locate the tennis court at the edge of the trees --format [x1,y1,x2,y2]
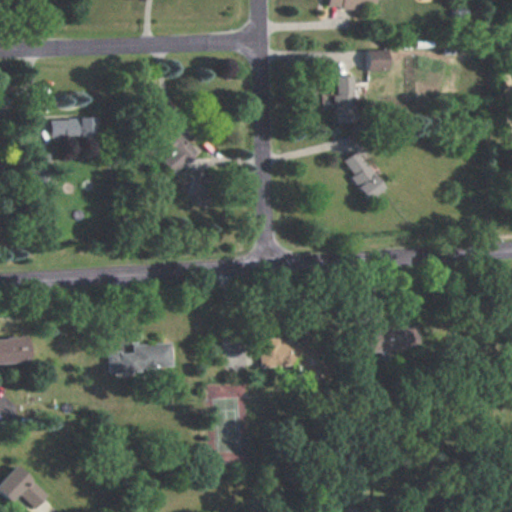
[206,384,247,462]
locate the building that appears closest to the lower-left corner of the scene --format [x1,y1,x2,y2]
[0,464,48,508]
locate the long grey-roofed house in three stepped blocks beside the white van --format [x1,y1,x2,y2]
[52,116,95,140]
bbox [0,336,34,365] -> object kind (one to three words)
house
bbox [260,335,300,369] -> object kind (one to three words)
house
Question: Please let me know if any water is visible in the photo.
No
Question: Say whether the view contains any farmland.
No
